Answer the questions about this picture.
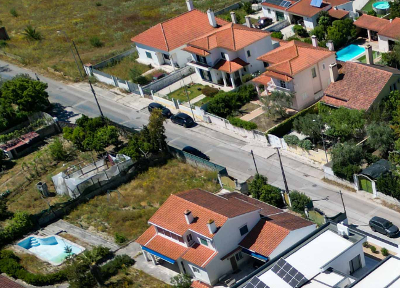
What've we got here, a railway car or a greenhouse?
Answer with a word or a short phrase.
greenhouse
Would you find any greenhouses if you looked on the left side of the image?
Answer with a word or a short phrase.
Yes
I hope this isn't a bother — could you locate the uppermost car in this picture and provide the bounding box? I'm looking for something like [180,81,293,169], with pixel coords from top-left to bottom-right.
[253,14,272,27]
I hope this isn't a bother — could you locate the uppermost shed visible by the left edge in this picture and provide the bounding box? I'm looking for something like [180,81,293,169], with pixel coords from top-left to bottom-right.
[0,131,43,161]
